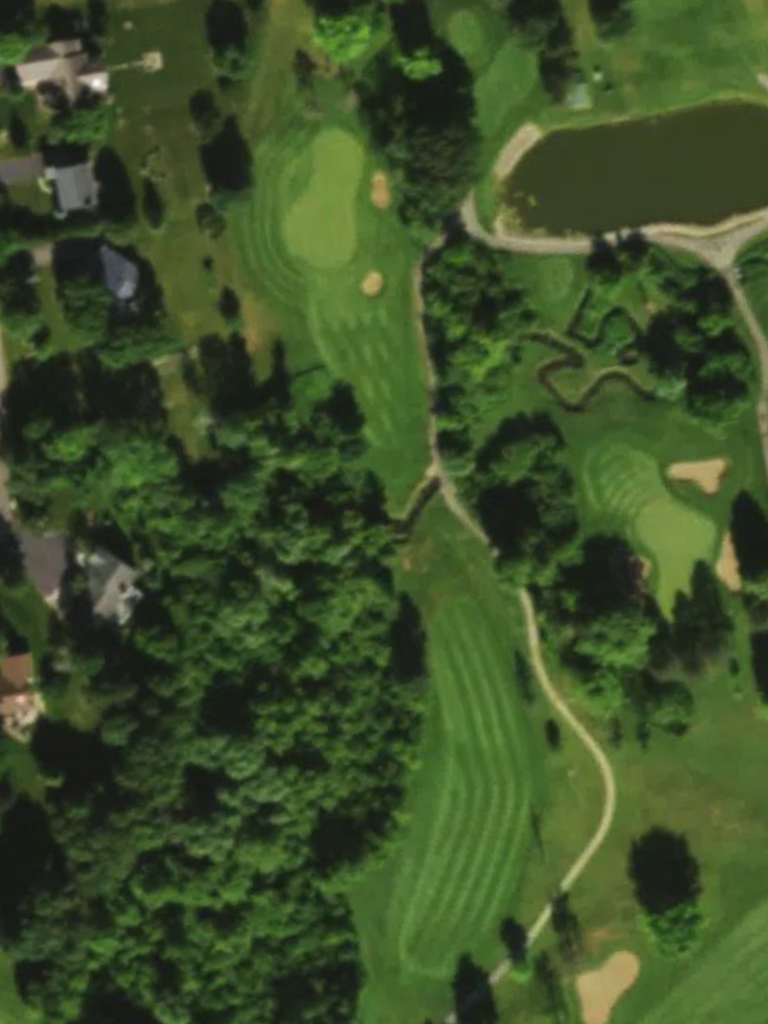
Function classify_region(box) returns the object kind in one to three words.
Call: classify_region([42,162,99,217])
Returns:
house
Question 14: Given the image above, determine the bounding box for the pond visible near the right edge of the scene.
[501,102,768,234]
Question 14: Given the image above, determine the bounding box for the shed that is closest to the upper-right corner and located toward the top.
[570,83,589,108]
